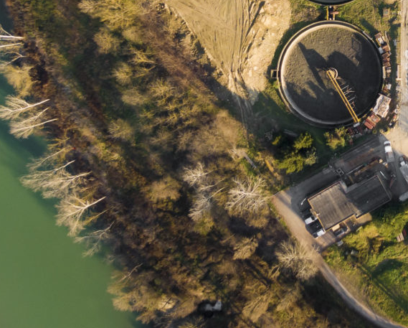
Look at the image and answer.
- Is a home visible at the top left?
No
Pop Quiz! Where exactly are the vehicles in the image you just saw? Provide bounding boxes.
[382,141,393,163]
[311,228,327,240]
[398,159,408,183]
[303,215,319,228]
[307,222,323,233]
[298,208,314,219]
